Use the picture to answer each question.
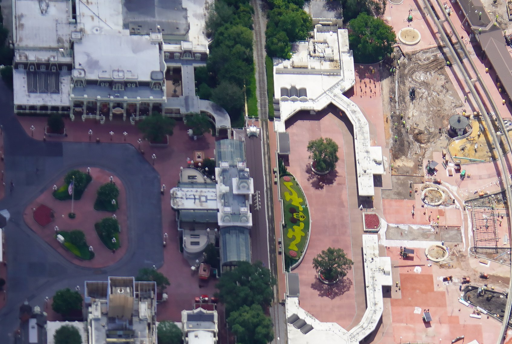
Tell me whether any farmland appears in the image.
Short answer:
No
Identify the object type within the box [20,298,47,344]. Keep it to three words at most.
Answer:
house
